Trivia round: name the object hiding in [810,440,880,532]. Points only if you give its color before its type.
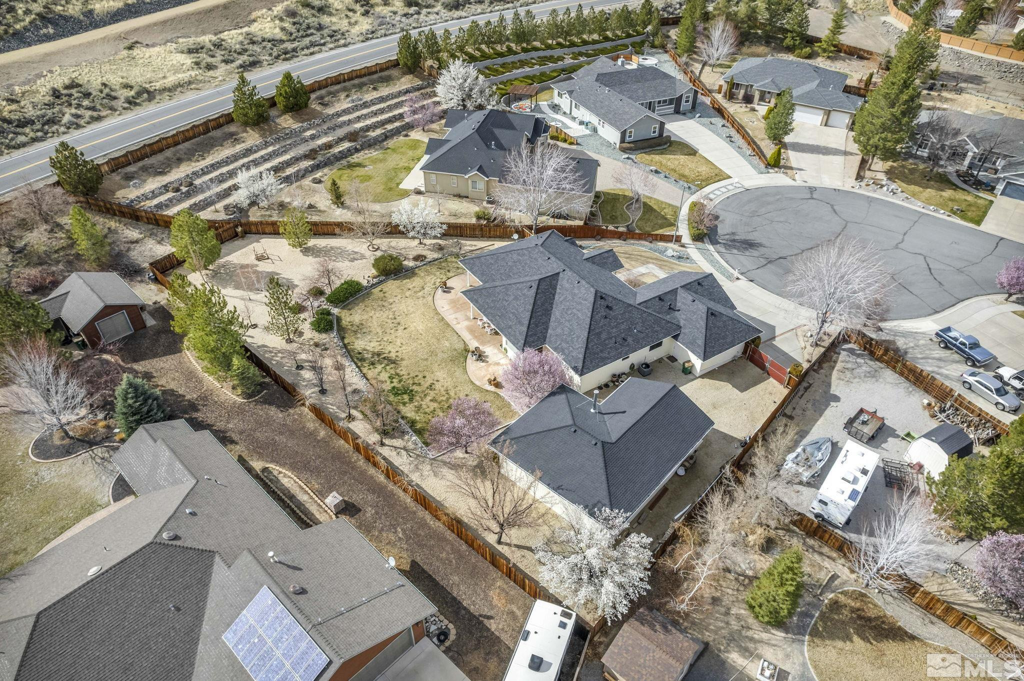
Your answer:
white trailer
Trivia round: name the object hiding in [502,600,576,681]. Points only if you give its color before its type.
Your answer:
white camper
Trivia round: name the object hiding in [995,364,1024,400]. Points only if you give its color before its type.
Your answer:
white car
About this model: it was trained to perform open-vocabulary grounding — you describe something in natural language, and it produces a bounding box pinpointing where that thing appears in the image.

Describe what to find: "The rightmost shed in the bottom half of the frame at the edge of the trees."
[896,420,956,472]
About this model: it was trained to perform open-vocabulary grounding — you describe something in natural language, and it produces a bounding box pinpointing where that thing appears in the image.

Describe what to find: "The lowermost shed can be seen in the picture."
[600,607,701,681]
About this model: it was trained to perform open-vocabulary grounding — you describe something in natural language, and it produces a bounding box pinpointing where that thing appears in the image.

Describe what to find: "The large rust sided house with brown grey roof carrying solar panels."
[0,418,439,681]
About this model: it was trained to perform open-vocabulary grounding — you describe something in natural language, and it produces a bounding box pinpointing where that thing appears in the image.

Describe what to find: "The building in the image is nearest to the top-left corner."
[35,271,148,351]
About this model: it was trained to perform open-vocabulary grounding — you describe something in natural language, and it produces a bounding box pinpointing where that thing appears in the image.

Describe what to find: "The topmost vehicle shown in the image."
[932,324,1001,370]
